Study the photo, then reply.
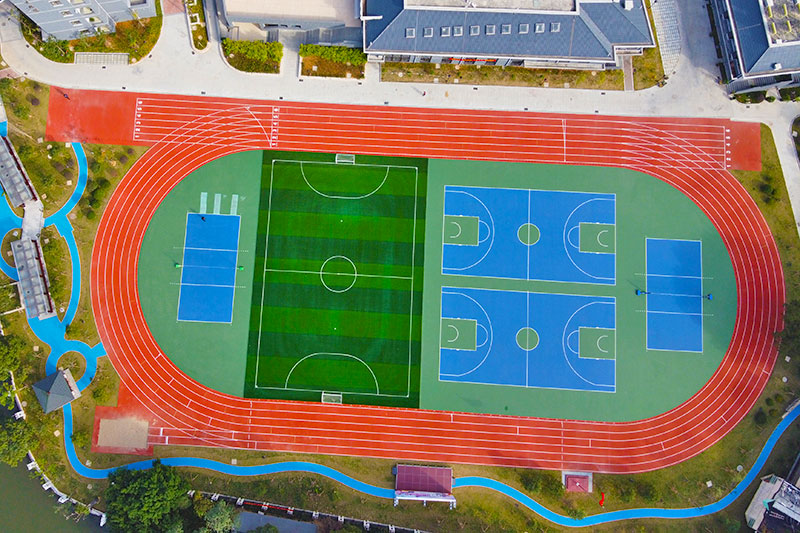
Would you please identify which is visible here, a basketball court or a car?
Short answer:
basketball court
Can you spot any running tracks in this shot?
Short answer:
Yes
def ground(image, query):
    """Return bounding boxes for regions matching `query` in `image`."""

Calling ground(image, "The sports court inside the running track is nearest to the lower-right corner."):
[635,235,714,352]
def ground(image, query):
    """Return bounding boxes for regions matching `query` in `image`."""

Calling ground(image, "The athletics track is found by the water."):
[45,85,788,474]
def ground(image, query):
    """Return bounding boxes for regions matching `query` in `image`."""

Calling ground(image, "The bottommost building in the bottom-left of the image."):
[32,368,81,414]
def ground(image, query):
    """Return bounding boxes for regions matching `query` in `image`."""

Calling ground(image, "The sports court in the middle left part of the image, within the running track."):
[170,210,249,323]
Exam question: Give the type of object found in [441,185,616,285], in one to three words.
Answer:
basketball court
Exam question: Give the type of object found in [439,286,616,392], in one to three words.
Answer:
basketball court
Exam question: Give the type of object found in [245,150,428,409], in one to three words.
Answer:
soccer field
